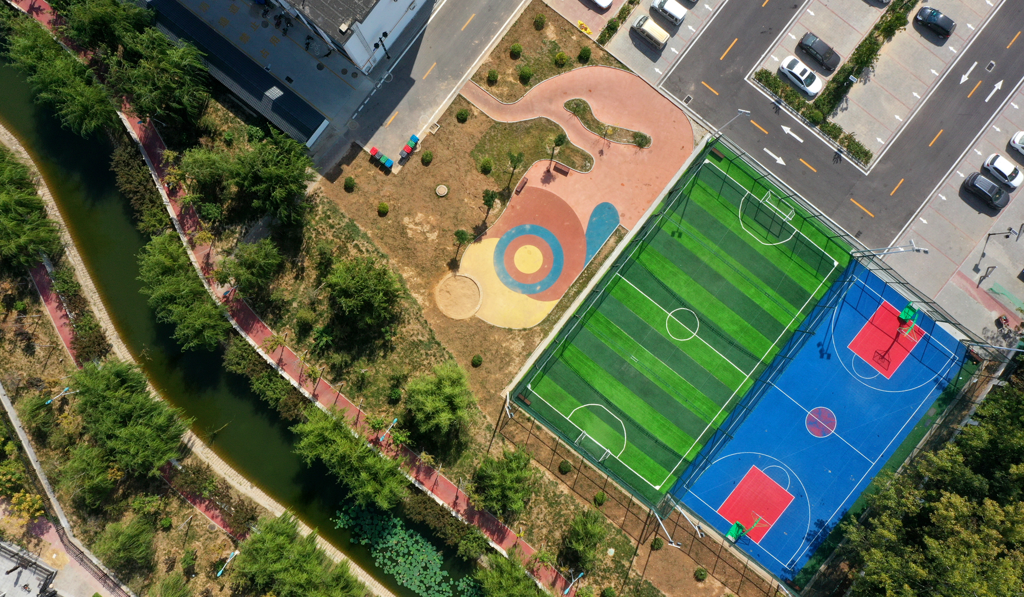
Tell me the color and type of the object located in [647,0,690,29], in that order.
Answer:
white car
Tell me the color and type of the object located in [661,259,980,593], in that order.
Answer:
blue basketball court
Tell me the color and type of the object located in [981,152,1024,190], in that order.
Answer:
white car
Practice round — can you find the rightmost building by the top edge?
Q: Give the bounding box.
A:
[263,0,427,80]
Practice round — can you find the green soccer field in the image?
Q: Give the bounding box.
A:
[510,138,856,507]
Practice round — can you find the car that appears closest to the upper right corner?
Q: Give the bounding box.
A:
[912,3,959,43]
